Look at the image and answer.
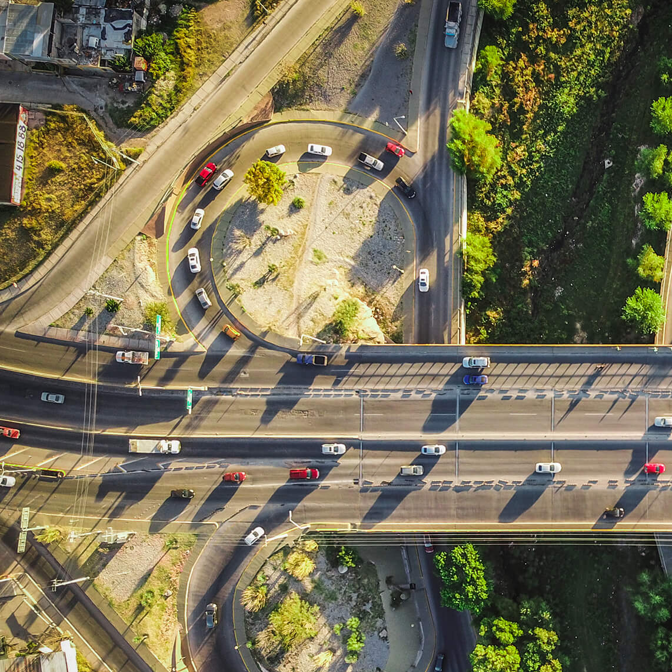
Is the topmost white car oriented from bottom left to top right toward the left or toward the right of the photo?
left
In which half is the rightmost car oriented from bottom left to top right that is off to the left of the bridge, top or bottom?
bottom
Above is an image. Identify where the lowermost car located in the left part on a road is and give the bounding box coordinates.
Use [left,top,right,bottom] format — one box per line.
[205,604,218,628]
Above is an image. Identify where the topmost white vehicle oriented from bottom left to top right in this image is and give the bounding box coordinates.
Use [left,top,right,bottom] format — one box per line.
[212,169,234,191]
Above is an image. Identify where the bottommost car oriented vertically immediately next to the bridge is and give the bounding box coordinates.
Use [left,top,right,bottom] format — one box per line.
[423,533,435,557]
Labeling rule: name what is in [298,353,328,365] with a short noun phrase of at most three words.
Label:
vehicle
